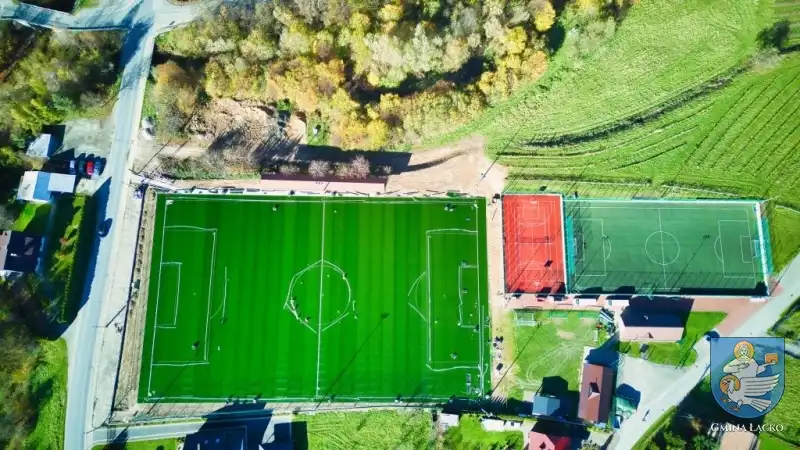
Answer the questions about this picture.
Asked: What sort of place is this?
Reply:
sports ground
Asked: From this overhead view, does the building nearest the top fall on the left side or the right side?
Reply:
left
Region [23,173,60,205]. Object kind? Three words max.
house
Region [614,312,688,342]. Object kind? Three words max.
building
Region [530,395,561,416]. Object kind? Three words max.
shed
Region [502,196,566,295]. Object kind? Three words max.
basketball court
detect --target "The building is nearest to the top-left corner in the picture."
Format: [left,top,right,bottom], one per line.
[29,134,55,159]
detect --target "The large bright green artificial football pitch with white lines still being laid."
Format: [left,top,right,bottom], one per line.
[138,194,491,402]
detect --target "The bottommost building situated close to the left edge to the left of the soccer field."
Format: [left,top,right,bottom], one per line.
[1,230,48,273]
